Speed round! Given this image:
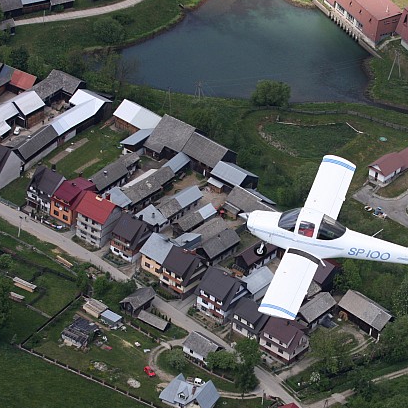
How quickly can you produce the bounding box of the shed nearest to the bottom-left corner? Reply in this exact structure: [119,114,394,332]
[62,324,99,353]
